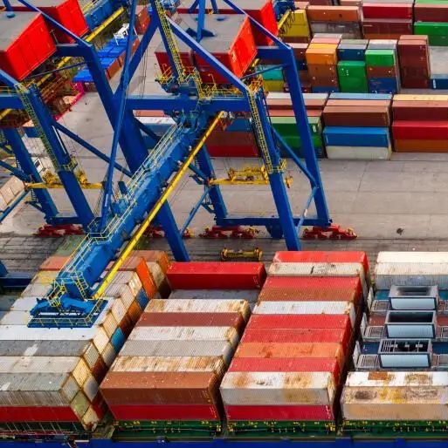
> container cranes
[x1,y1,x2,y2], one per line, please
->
[14,0,353,340]
[0,0,194,256]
